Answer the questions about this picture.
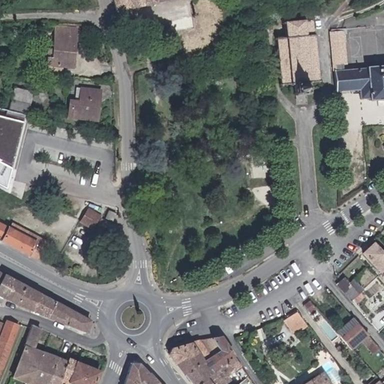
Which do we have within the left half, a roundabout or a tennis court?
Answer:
roundabout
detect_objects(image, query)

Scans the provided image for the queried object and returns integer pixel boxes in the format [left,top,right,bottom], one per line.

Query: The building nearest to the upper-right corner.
[328,28,348,66]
